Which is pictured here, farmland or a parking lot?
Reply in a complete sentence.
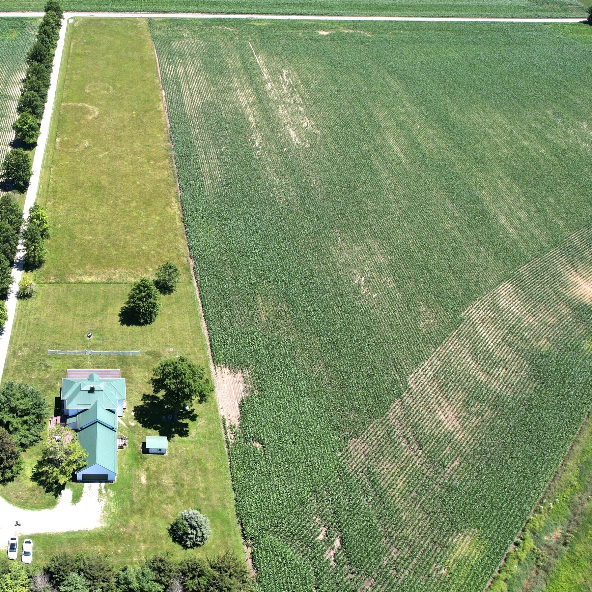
This looks like farmland.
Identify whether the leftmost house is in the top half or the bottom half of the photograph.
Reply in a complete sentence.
It is in the bottom half that the leftmost house appears.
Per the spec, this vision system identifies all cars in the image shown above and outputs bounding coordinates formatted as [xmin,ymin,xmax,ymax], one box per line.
[20,538,33,566]
[6,534,18,561]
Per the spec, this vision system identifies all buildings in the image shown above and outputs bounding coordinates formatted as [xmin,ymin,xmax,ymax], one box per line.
[146,436,168,453]
[61,369,126,481]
